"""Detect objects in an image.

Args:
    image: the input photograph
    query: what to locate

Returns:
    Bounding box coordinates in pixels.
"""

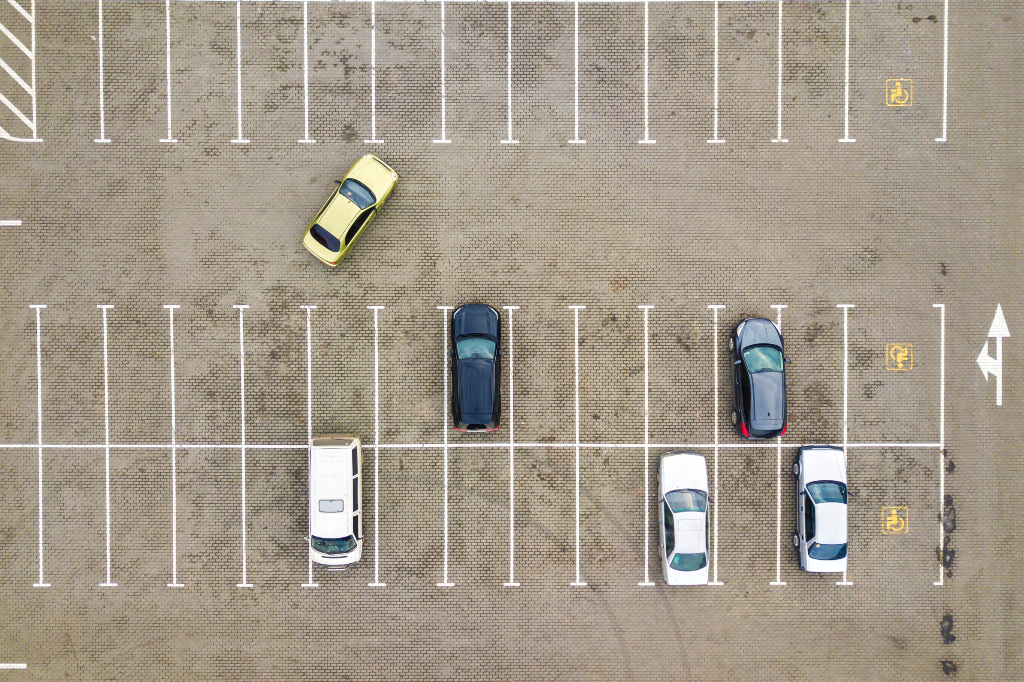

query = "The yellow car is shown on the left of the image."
[301,153,398,266]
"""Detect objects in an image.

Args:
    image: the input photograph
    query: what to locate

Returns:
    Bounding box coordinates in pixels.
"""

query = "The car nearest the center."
[448,303,505,434]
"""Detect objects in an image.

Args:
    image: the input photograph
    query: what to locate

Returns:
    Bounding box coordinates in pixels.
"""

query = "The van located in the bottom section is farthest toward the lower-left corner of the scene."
[304,431,367,571]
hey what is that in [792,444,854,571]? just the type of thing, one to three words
car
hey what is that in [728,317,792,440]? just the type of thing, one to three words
car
